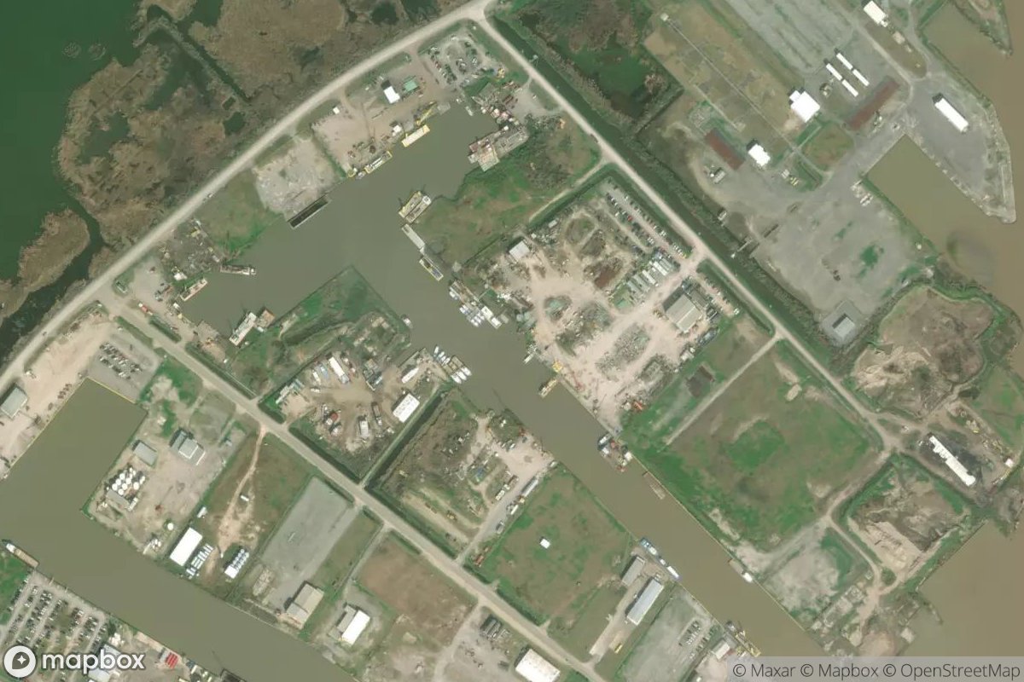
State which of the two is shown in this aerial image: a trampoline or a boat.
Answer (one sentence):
The one in the frame is a boat.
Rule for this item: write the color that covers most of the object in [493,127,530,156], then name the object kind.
gray ship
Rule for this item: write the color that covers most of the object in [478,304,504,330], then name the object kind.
white boat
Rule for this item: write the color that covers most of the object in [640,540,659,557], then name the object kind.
white ship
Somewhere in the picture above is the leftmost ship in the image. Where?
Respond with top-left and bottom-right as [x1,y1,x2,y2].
[5,543,38,568]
